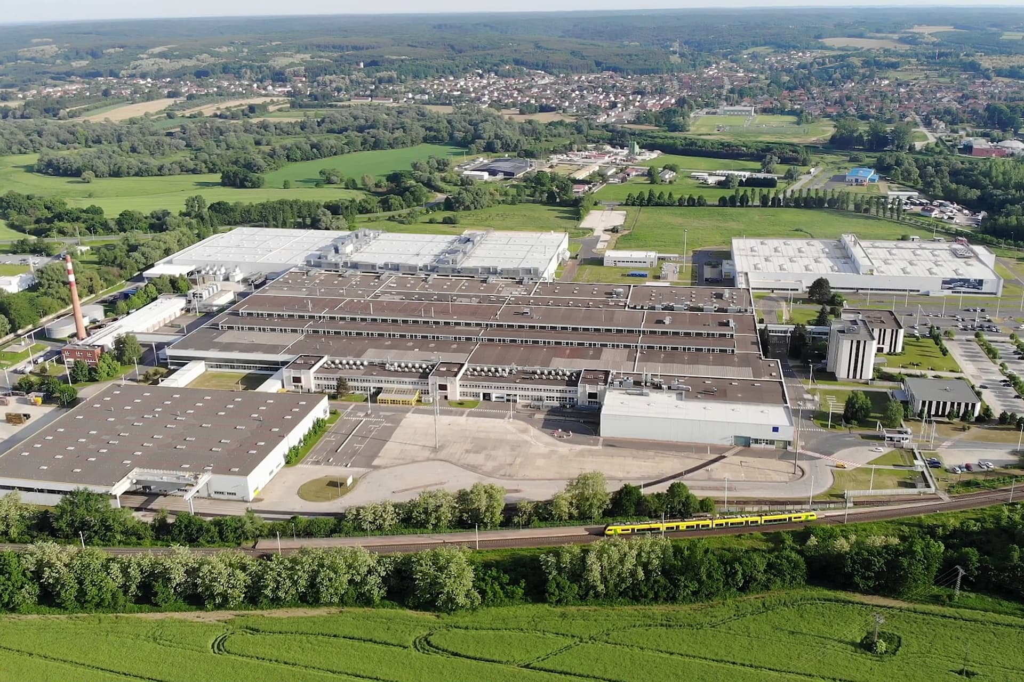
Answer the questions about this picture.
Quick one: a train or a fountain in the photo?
train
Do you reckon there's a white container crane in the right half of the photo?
No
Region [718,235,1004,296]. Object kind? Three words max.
building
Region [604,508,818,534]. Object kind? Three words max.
train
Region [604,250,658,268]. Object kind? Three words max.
building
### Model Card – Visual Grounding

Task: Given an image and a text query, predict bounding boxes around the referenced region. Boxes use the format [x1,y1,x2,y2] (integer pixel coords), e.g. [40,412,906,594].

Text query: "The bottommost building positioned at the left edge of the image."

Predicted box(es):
[0,381,326,505]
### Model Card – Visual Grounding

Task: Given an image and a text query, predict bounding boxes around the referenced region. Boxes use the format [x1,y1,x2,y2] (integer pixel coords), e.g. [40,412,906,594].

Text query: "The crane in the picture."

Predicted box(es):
[108,463,213,508]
